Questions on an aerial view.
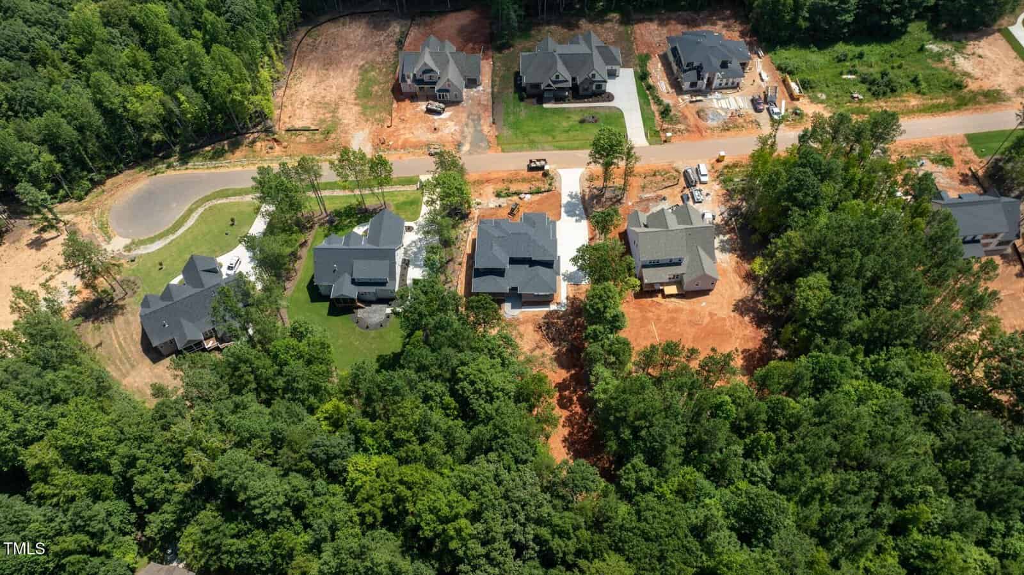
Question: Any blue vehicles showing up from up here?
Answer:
No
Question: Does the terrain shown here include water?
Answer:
No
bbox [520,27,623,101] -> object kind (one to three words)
house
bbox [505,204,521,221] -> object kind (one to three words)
work vehicle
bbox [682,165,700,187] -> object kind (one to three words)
vehicle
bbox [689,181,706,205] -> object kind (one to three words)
vehicle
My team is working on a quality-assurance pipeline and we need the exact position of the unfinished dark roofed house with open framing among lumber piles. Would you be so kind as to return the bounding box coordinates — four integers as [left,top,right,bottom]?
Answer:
[664,28,753,93]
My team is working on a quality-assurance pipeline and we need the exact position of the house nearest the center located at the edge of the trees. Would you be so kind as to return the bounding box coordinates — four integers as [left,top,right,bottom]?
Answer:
[471,213,562,299]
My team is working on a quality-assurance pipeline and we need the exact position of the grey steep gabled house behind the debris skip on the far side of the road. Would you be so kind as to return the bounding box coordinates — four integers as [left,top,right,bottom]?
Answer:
[400,28,483,102]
